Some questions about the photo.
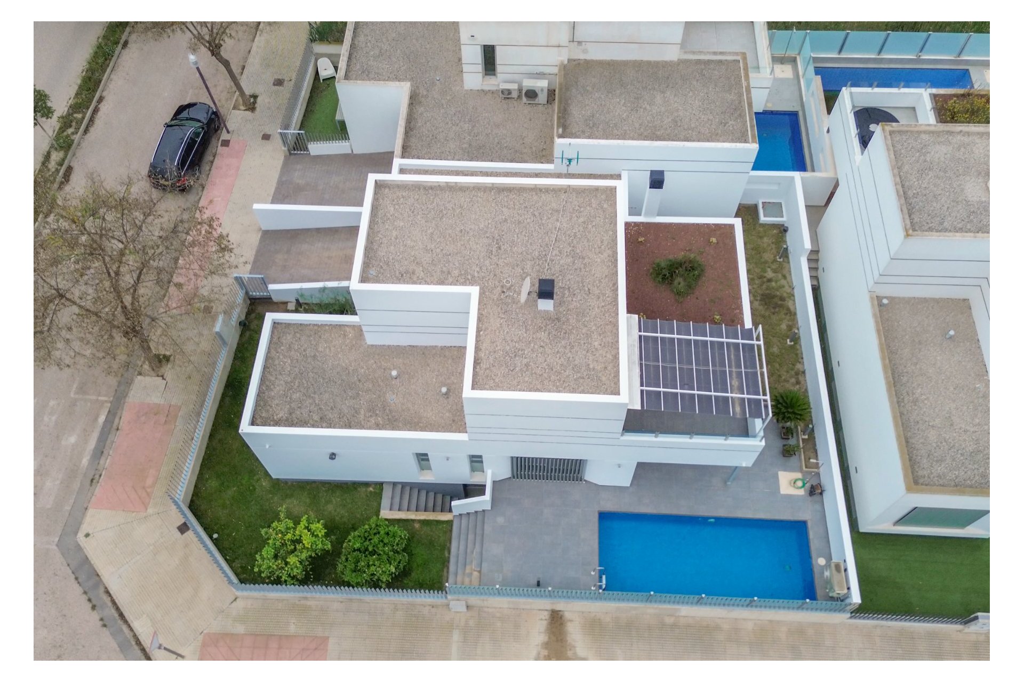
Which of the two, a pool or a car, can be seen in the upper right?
pool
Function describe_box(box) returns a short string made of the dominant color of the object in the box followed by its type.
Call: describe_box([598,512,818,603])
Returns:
blue swimming pool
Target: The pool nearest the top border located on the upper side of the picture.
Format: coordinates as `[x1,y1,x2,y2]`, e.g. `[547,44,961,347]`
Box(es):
[817,66,975,107]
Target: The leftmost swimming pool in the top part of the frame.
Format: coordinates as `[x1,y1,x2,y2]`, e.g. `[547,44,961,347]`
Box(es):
[751,111,807,172]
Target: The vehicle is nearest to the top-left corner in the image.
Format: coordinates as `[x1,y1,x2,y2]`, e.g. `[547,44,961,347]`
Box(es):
[149,100,223,193]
